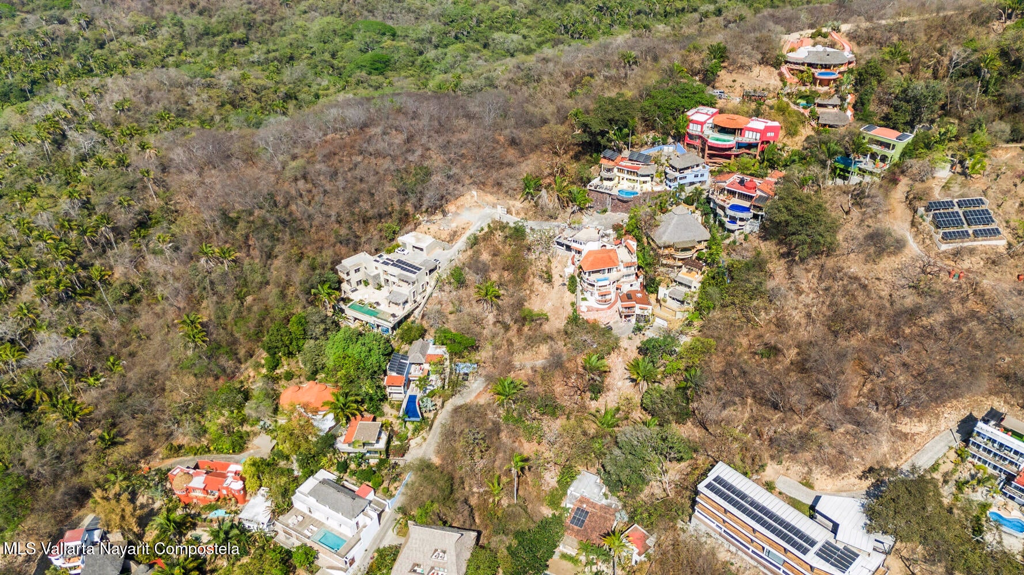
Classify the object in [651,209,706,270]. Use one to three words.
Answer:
house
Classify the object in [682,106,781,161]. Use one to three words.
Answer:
house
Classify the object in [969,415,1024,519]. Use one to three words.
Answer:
building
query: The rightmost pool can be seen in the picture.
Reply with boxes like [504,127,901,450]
[987,505,1024,539]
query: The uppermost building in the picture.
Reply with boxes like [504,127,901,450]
[784,37,857,87]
